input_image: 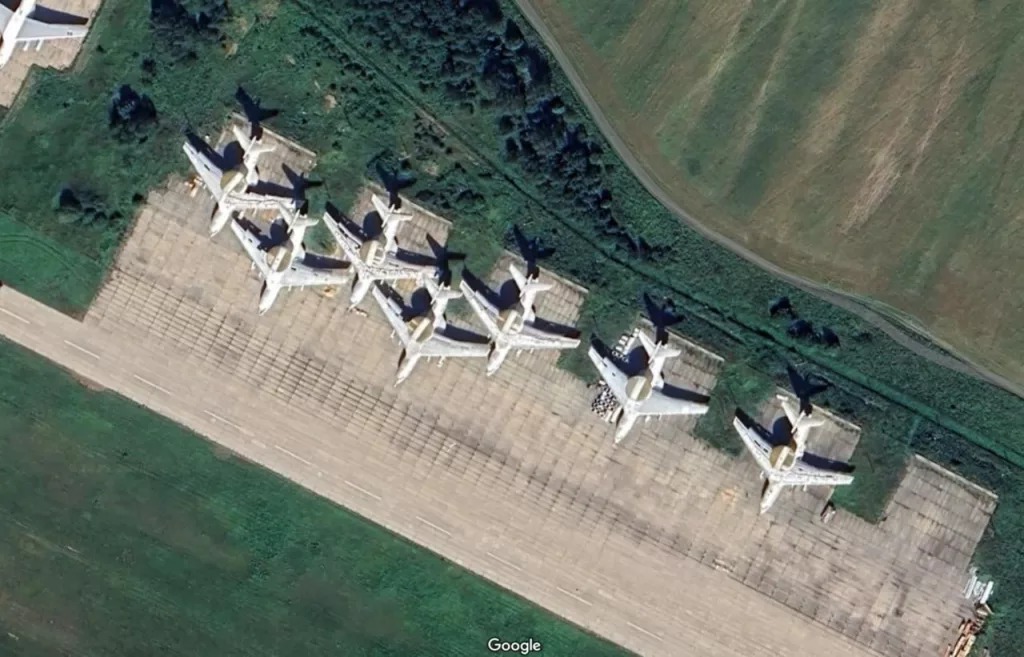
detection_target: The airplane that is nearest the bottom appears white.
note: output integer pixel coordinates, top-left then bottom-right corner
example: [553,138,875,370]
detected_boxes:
[730,399,855,516]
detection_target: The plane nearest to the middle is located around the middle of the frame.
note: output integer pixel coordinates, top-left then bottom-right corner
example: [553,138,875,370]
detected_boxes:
[458,264,580,381]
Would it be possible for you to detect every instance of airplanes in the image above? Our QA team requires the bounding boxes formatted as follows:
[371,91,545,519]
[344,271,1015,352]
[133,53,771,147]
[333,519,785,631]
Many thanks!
[458,264,580,381]
[0,0,86,67]
[586,331,708,447]
[227,202,349,317]
[730,399,855,516]
[319,196,440,312]
[183,126,301,241]
[369,275,488,389]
